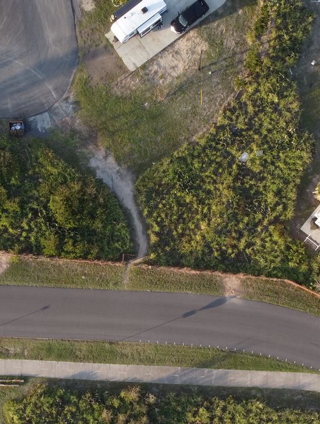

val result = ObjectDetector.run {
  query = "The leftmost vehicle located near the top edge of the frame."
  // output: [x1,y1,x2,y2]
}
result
[110,0,167,50]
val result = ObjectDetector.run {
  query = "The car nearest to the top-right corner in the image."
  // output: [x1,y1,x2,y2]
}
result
[171,0,207,32]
